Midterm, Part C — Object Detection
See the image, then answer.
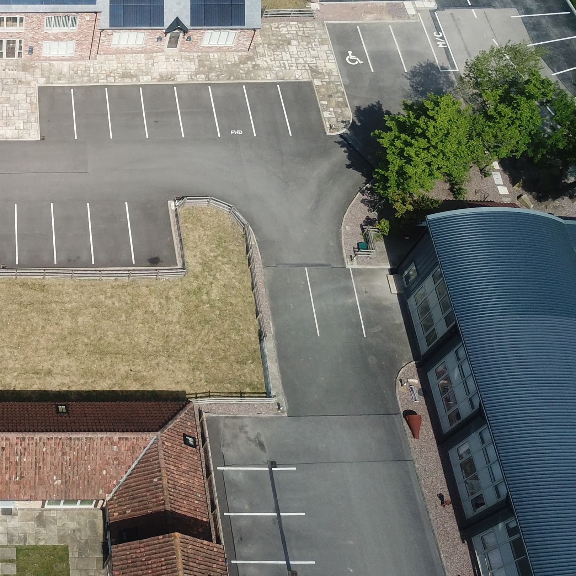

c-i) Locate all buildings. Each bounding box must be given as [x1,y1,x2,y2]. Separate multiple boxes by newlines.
[0,400,229,576]
[0,0,260,61]
[407,207,576,576]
